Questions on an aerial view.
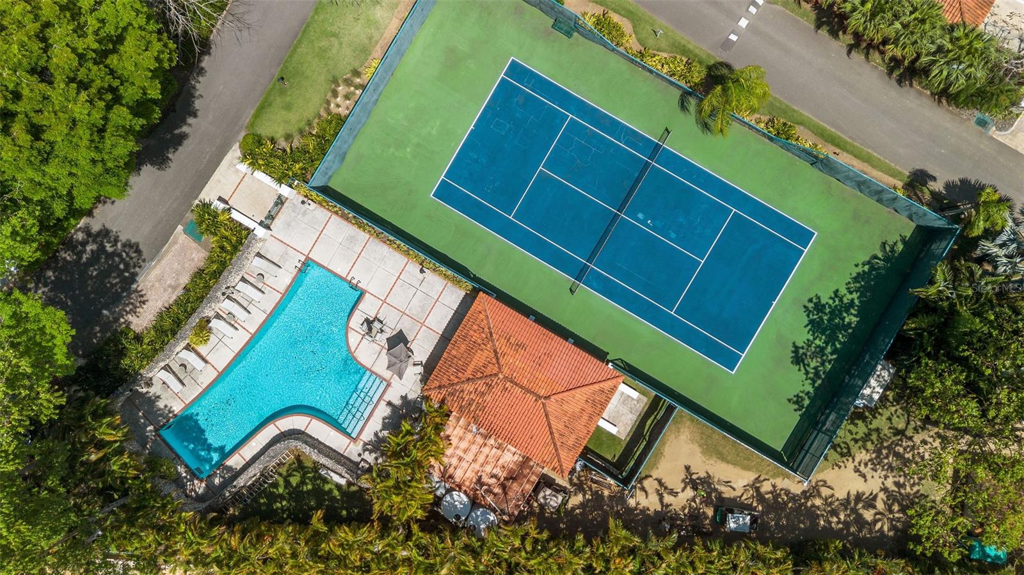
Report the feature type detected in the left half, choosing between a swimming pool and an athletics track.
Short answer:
swimming pool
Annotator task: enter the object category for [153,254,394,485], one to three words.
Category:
swimming pool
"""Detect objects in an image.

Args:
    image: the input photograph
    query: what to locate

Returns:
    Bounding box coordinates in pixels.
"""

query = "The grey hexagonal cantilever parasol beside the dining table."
[387,343,421,380]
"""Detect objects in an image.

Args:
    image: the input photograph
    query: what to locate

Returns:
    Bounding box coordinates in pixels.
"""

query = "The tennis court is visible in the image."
[324,0,929,467]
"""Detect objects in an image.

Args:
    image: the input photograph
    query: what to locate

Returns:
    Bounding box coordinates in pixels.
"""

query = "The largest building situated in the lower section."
[421,291,624,524]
